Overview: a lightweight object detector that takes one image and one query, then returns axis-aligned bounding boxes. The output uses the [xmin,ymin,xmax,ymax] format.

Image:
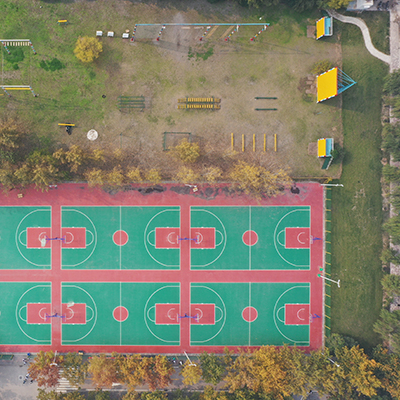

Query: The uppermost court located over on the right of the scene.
[190,206,310,269]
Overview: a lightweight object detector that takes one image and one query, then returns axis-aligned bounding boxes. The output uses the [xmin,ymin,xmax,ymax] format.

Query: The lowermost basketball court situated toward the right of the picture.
[190,282,310,345]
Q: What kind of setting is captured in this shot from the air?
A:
sports ground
